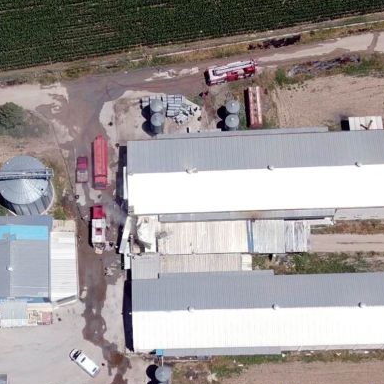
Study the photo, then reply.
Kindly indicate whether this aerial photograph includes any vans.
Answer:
Yes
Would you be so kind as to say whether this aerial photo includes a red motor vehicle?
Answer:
Yes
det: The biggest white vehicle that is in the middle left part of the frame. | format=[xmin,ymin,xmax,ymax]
[90,204,107,245]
